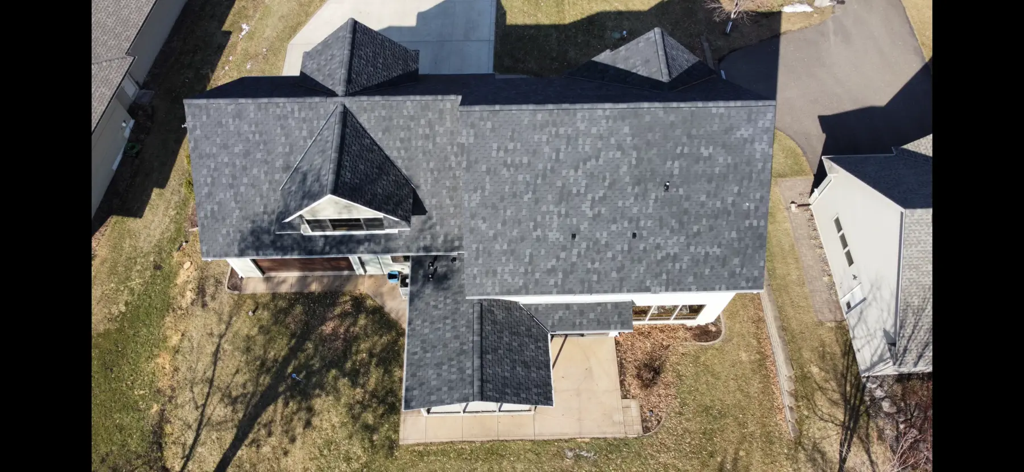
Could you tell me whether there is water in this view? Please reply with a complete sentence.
No, no water is visible.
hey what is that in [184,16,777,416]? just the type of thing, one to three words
house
